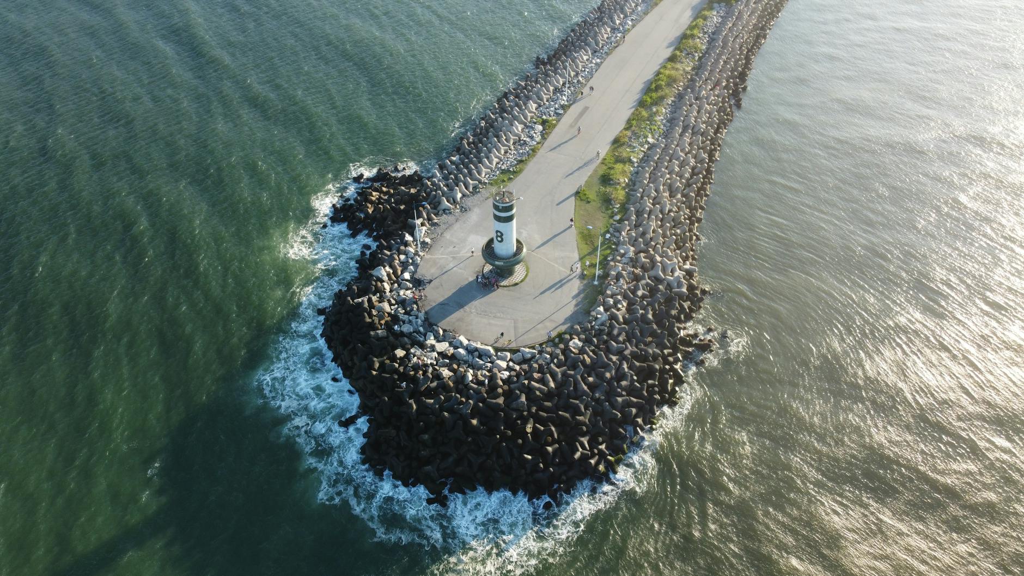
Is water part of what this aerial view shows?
Yes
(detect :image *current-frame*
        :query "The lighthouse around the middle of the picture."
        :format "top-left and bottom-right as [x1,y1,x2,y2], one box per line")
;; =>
[484,182,530,287]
